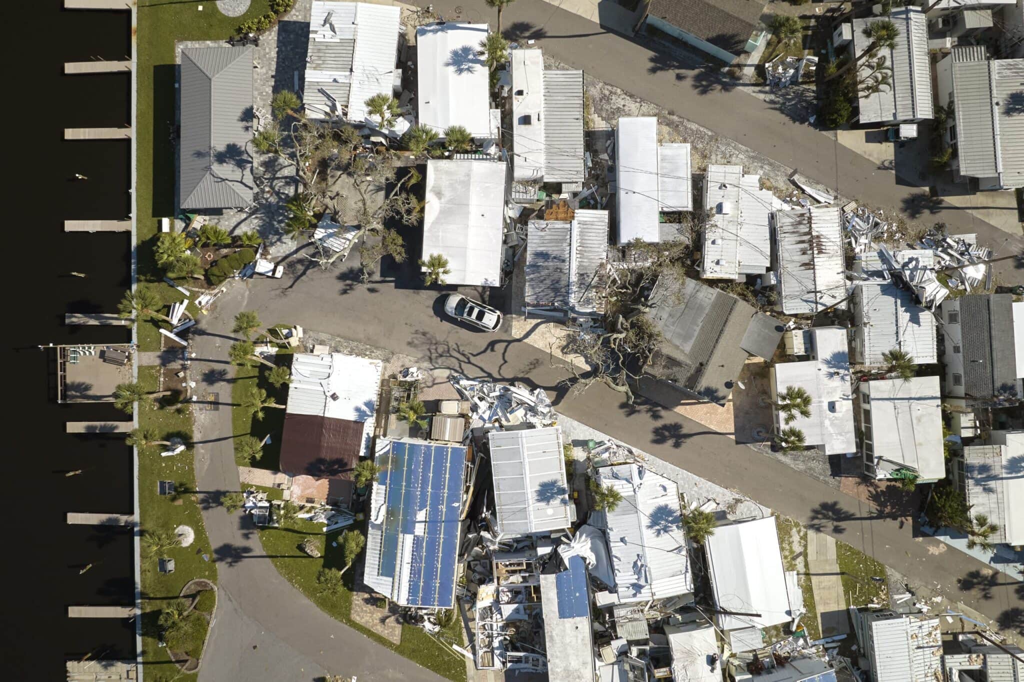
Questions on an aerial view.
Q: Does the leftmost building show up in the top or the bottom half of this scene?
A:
top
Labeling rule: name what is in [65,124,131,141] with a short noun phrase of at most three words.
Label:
pier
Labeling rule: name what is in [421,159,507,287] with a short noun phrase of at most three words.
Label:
house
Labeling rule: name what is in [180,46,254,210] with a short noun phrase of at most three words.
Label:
building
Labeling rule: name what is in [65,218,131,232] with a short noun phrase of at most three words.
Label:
pier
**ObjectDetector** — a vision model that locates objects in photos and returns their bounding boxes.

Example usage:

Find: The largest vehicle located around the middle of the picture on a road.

[440,292,507,335]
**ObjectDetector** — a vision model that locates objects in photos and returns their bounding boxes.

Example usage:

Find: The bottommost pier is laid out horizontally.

[68,604,135,623]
